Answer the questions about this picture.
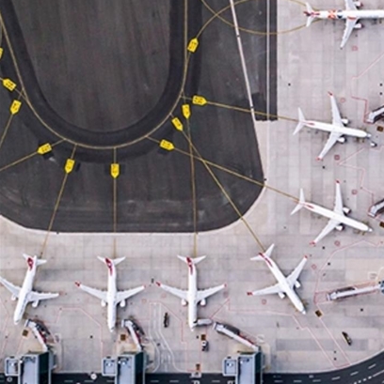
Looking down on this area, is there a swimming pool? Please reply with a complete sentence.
No, the photo shows no swimming pool.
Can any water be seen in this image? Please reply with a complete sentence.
No, water can't be seen anywhere here.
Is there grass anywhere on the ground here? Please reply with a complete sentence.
No, no grass is visible.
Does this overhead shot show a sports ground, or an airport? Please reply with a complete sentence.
This looks like an airport.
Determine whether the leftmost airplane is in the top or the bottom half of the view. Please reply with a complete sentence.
The bottom half of the photo is where the leftmost airplane is.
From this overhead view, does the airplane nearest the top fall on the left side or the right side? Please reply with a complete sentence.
You can find the airplane nearest the top on the right side of the picture.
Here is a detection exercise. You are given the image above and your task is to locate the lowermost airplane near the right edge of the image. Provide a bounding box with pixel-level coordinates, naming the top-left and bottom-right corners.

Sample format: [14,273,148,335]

[294,180,371,243]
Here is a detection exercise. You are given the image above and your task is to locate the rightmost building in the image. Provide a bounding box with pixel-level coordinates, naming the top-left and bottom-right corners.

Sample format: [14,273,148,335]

[223,352,271,384]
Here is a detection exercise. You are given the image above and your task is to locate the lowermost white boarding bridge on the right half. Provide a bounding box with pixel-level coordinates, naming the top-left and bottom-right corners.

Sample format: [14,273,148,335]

[212,322,265,353]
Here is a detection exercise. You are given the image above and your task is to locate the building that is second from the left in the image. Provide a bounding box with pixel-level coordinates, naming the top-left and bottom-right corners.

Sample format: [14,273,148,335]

[101,352,153,384]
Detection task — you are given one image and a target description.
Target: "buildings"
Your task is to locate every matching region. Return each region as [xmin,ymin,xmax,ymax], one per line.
[4,351,58,384]
[223,352,271,384]
[101,352,153,384]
